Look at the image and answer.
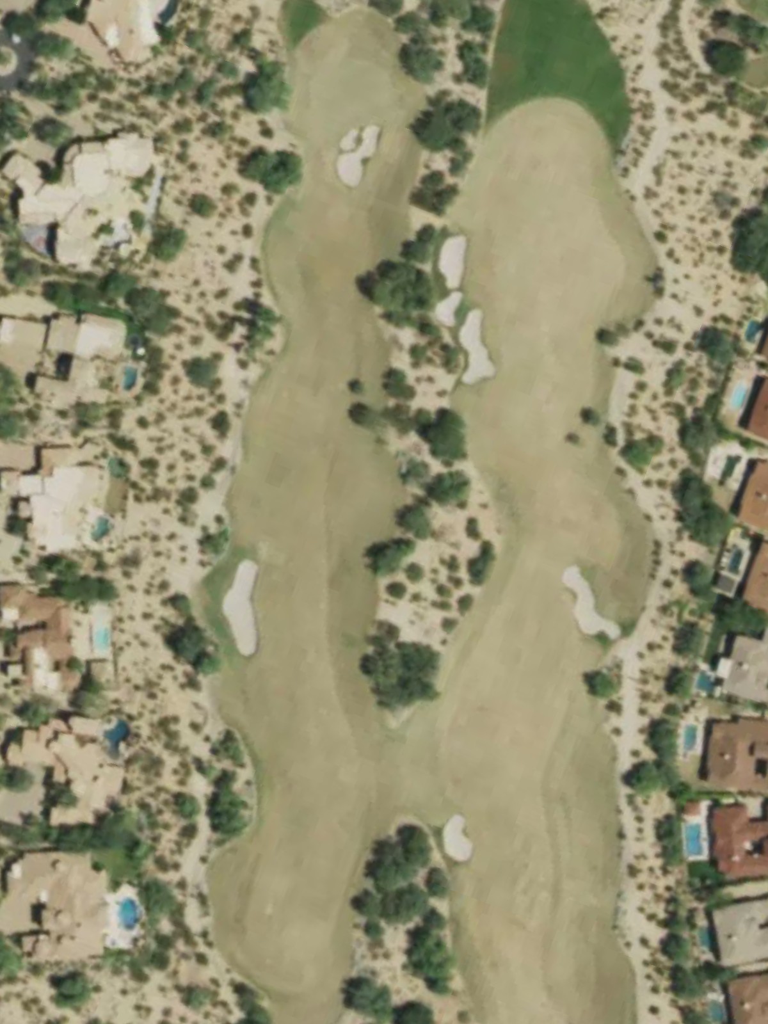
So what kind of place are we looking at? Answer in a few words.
golf course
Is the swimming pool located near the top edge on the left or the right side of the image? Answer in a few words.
left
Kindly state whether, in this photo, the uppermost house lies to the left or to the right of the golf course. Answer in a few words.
left of it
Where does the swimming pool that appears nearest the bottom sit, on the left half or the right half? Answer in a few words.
right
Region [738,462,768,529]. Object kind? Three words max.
house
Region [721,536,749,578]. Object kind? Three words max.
swimming pool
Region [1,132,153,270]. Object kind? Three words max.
house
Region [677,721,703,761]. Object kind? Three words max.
swimming pool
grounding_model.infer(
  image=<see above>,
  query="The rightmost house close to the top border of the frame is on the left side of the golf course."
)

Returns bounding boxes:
[88,0,160,64]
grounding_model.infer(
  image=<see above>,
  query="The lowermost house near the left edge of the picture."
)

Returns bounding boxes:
[0,852,106,961]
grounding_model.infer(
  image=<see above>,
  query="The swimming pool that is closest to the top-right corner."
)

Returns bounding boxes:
[742,316,764,351]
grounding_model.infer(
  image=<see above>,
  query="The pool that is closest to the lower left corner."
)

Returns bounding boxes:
[105,883,145,947]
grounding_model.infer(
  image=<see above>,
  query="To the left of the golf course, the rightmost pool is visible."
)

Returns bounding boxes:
[159,0,181,26]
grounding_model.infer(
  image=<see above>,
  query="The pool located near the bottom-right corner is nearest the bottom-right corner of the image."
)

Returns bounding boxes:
[707,993,728,1024]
